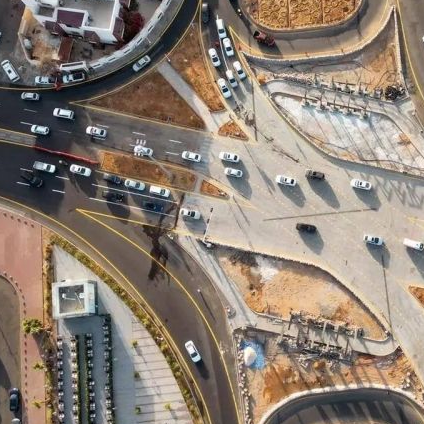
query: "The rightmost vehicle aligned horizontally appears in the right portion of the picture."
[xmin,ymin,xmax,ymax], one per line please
[402,237,424,251]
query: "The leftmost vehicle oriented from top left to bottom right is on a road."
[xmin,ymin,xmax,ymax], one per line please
[0,60,18,81]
